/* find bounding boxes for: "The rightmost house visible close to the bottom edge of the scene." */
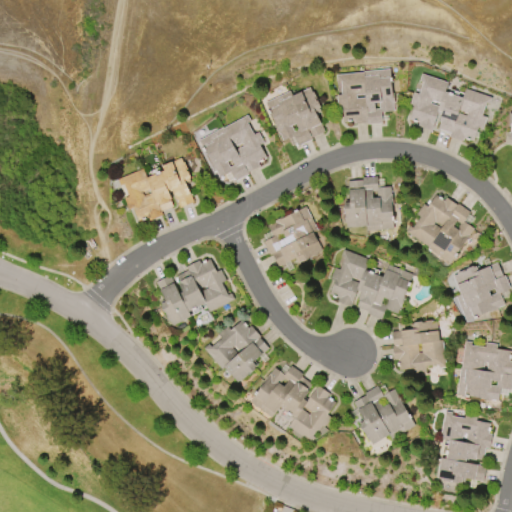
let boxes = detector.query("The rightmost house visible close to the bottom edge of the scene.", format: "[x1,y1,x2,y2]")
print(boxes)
[438,414,494,490]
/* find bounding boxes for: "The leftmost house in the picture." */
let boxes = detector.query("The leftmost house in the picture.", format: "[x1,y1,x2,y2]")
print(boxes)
[120,156,196,225]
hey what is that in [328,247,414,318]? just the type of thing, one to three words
house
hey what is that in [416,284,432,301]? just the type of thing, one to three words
swimming pool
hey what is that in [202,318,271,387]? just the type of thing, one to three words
house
